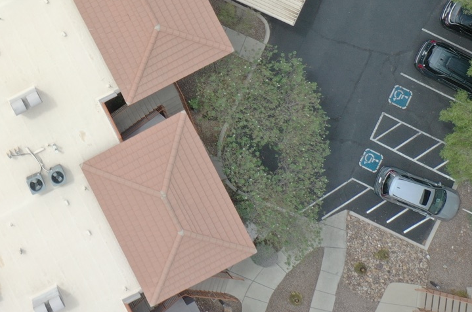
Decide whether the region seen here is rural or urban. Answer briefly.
urban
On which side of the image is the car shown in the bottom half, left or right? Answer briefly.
right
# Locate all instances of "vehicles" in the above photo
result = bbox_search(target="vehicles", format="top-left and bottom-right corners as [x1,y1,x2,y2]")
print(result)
[406,44,472,111]
[435,0,472,47]
[366,165,460,226]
